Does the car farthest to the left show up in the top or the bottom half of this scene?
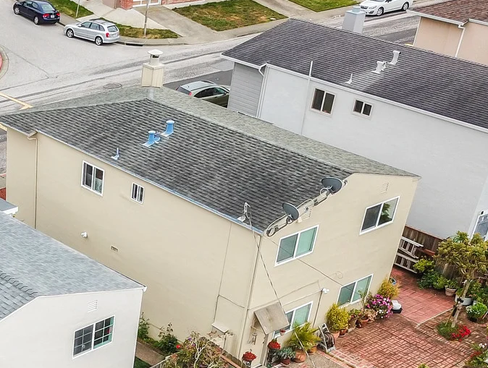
top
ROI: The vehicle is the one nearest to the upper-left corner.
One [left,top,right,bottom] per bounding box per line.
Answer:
[10,0,63,25]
